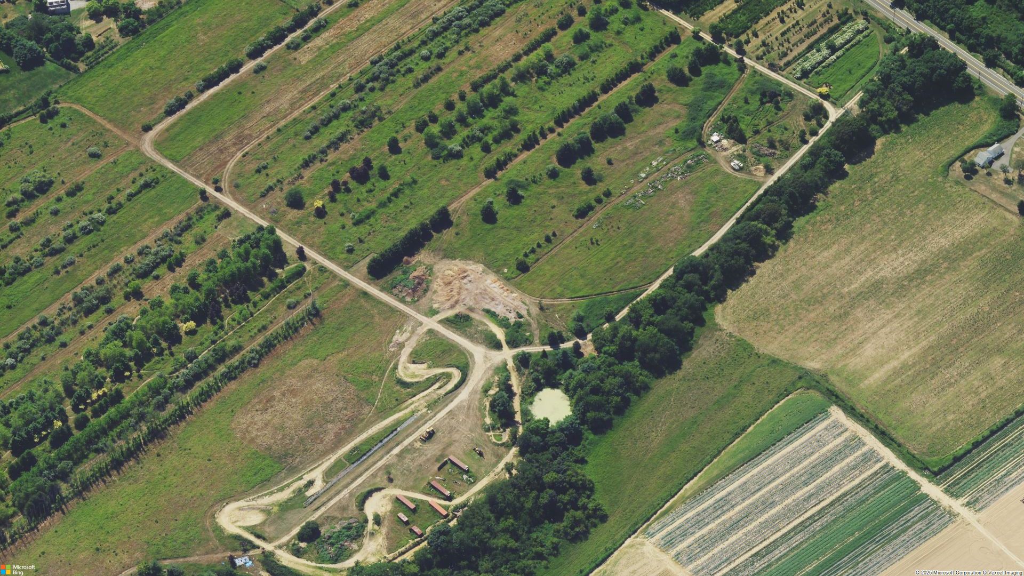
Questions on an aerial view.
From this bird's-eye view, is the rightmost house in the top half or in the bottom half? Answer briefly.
top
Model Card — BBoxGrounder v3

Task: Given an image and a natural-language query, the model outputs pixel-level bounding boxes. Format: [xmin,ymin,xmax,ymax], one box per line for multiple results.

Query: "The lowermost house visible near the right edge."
[976,144,1007,170]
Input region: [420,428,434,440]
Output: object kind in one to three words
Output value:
vehicle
